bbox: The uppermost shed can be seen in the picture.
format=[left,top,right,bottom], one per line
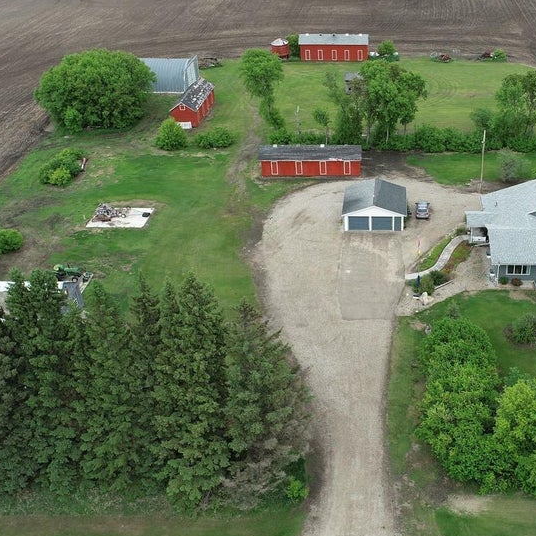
[297,33,369,61]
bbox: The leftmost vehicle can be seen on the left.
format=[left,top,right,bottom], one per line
[43,263,82,281]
